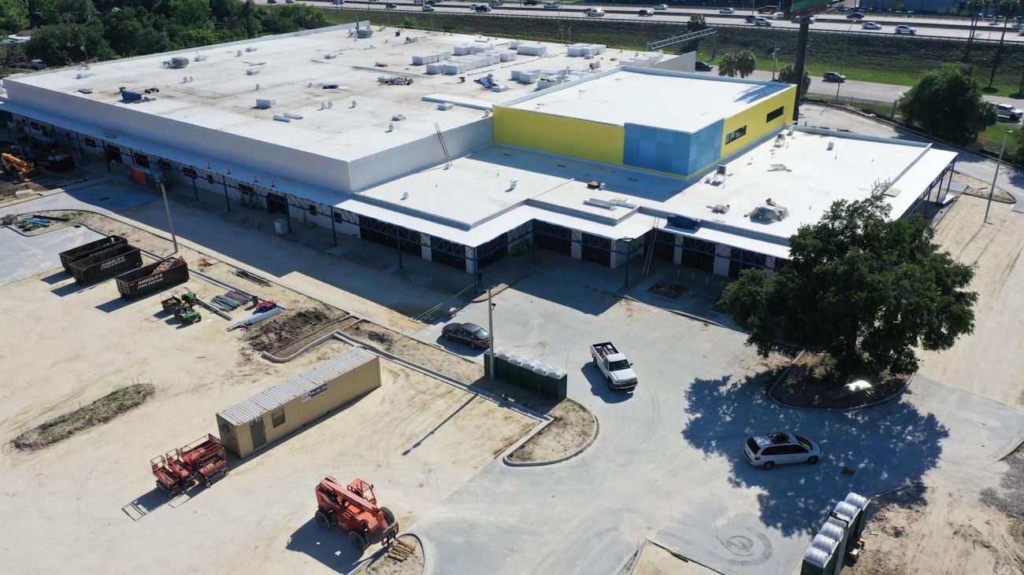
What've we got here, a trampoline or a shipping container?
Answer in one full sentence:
There is a shipping container in the scene.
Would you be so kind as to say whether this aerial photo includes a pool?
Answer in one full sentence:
No, I find no pool anywhere in the image.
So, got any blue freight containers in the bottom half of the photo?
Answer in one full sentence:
No, I can find no blue freight container in the bottom half of the photo.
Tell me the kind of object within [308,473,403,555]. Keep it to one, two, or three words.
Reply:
work vehicle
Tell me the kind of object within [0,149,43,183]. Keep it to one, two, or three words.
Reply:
work vehicle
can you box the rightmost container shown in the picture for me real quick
[216,347,381,459]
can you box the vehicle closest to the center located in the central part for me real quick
[447,319,497,349]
